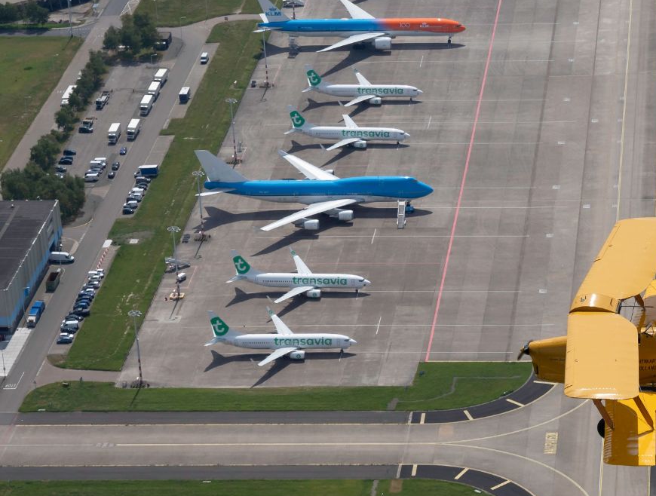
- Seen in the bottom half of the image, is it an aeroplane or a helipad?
aeroplane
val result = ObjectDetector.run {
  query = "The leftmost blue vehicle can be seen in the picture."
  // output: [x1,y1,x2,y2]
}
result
[28,304,43,324]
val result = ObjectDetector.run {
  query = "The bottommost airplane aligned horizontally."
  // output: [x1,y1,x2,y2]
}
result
[205,306,357,367]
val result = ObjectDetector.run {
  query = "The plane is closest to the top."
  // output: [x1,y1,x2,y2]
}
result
[251,0,467,53]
